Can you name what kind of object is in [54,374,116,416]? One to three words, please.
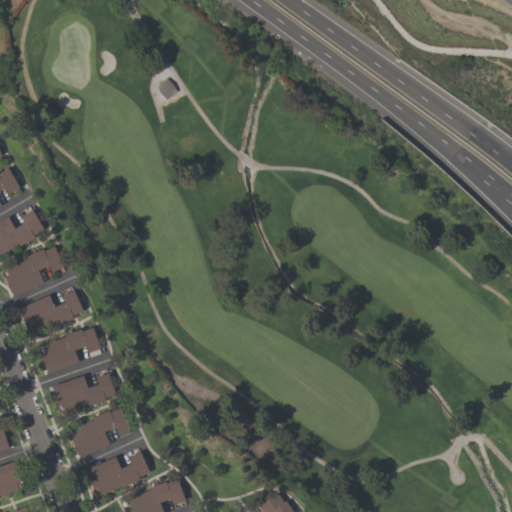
house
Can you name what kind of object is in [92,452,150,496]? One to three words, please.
house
